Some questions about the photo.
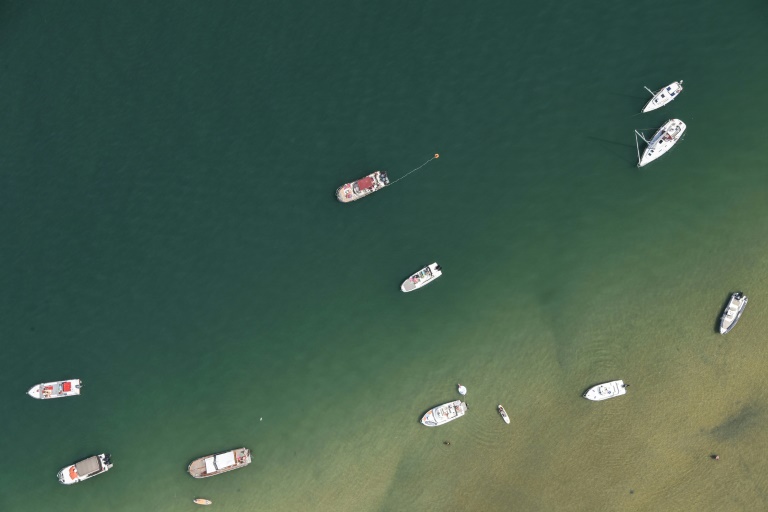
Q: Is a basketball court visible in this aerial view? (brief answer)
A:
No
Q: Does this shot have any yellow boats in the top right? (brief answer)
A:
No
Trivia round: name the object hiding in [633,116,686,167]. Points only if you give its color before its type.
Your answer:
white boat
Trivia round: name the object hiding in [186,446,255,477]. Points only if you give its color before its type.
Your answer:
white boat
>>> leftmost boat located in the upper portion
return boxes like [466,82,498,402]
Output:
[338,172,392,198]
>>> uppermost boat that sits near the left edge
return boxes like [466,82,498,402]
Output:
[25,379,85,399]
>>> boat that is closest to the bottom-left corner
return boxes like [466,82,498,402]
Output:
[58,454,113,483]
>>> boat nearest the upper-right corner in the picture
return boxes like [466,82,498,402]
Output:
[641,81,684,114]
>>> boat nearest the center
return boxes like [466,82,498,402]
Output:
[400,262,442,291]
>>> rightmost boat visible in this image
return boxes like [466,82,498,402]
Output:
[721,292,748,334]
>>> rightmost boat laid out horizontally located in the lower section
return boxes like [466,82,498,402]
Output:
[582,379,628,401]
